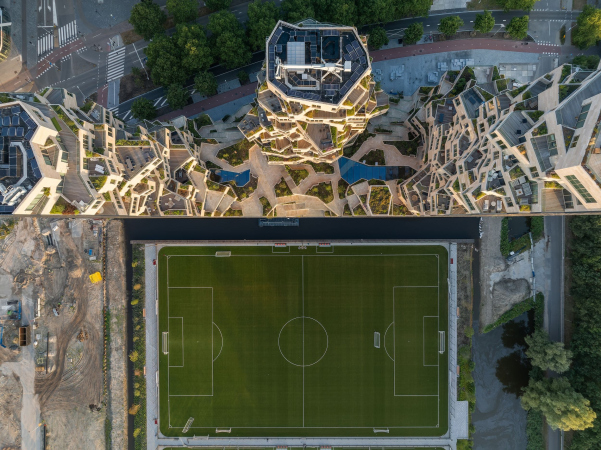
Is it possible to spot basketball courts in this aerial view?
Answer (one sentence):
No, no basketball court can be seen from above.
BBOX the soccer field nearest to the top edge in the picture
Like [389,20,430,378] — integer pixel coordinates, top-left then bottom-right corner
[158,246,450,438]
